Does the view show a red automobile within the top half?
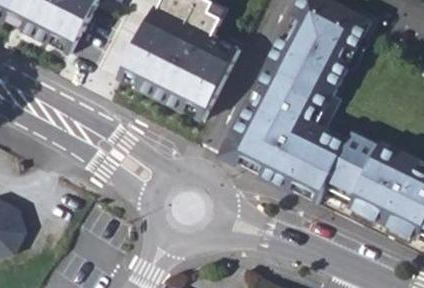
No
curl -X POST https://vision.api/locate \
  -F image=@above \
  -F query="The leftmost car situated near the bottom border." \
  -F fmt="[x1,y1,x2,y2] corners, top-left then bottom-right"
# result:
[75,260,93,284]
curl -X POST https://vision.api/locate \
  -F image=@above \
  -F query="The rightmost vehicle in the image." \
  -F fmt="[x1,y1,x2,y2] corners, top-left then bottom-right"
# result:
[358,244,380,260]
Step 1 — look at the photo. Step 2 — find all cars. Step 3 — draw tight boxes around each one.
[50,205,72,221]
[75,260,93,284]
[74,58,96,73]
[281,228,305,244]
[90,28,106,48]
[60,193,84,210]
[102,218,119,240]
[358,244,380,260]
[96,276,110,288]
[312,223,334,238]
